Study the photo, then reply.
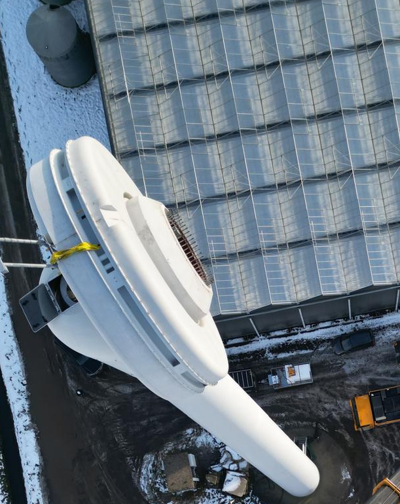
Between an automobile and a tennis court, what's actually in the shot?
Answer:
automobile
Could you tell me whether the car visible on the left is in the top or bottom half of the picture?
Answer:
bottom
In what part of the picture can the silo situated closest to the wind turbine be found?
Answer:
top left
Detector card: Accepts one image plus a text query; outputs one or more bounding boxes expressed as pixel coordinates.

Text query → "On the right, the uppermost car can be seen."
[328,324,379,357]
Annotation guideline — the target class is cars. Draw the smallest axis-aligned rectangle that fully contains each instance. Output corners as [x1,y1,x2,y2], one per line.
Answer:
[49,337,101,379]
[328,324,379,357]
